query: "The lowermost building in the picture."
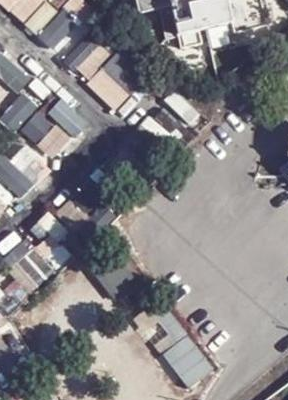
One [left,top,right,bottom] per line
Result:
[162,336,214,388]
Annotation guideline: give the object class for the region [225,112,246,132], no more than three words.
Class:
car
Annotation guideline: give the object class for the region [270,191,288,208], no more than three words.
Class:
car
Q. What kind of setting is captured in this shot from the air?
residential area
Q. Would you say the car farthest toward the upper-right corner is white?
Yes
